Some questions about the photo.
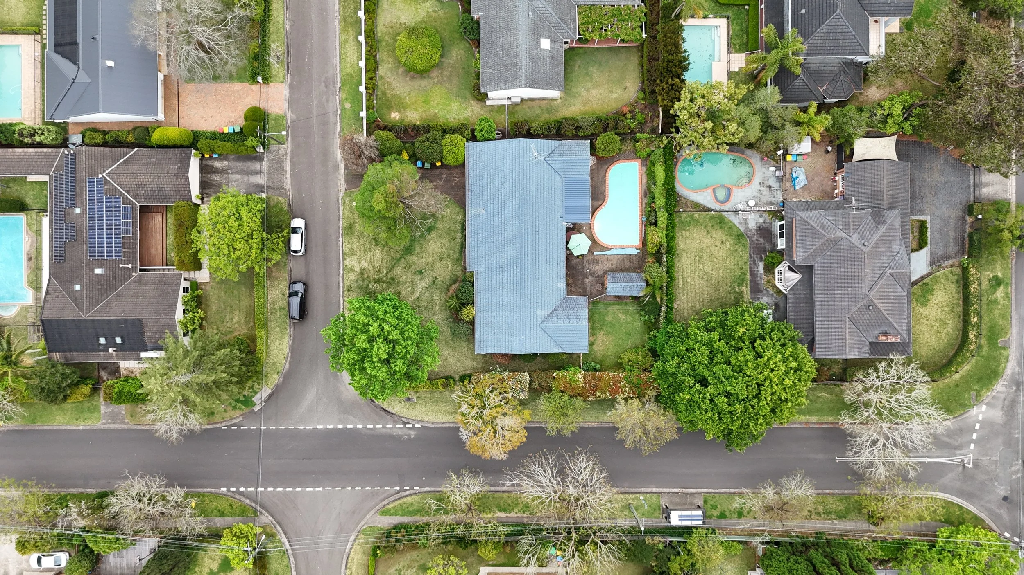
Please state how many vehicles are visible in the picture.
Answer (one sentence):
In total, there are 3 vehicles in the scene.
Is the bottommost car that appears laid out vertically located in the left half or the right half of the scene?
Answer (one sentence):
You can find the bottommost car that appears laid out vertically on the left side of the picture.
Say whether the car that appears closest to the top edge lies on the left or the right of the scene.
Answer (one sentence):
It is on the left.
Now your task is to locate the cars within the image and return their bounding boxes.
[287,279,308,323]
[288,218,308,256]
[30,551,68,572]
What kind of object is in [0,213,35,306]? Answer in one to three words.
swimming pool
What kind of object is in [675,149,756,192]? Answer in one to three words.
swimming pool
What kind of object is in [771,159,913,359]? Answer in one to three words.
house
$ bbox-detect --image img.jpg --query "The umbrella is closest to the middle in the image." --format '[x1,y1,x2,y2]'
[568,233,592,255]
